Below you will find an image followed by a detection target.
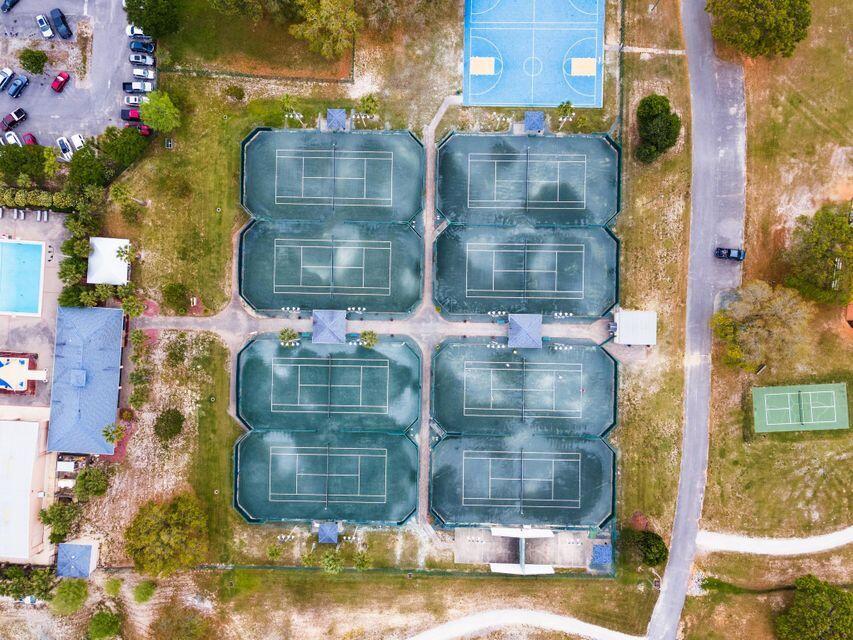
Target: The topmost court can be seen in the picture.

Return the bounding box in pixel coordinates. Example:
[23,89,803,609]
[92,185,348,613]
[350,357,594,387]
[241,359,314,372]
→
[464,0,606,26]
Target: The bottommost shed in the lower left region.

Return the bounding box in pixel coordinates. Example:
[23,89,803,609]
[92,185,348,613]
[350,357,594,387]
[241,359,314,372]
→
[56,541,97,578]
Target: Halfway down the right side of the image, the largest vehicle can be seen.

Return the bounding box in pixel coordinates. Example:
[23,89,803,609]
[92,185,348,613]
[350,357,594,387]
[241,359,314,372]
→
[712,248,745,260]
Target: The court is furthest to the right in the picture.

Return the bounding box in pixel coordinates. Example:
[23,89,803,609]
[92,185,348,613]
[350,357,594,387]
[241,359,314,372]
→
[752,383,848,433]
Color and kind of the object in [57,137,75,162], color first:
white car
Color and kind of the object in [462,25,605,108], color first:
blue basketball court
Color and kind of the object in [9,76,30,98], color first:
blue car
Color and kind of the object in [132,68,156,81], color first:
white vehicle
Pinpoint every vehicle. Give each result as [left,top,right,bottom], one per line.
[69,132,87,153]
[127,122,151,132]
[22,130,41,148]
[0,107,28,132]
[122,109,151,122]
[122,0,132,9]
[712,248,745,260]
[123,81,154,93]
[4,129,25,152]
[9,76,30,98]
[127,27,150,38]
[130,54,156,67]
[52,72,71,93]
[50,8,73,39]
[126,95,150,106]
[0,68,17,92]
[130,42,156,53]
[606,323,614,330]
[36,15,56,39]
[132,68,156,81]
[0,0,22,14]
[57,137,75,162]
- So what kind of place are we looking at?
sports ground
